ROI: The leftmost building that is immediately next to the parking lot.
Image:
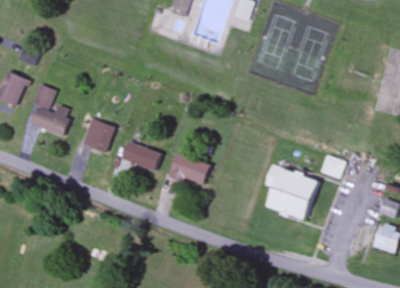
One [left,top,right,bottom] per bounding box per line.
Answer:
[265,165,320,222]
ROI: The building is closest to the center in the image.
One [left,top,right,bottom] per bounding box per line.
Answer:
[169,154,210,184]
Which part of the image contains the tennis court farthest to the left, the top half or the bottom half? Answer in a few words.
top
